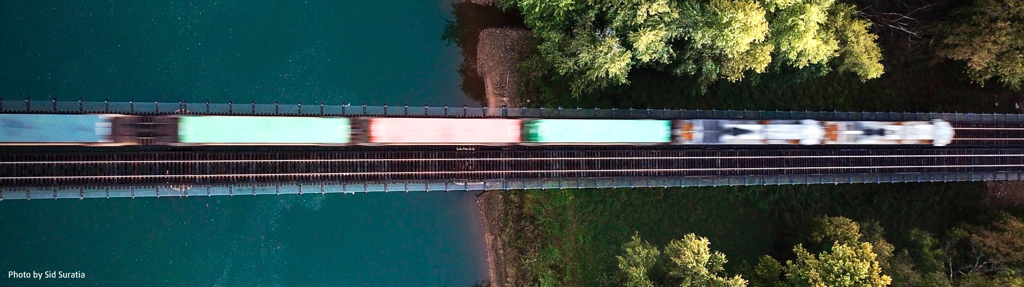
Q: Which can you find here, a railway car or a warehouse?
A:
railway car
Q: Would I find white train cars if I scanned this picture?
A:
Yes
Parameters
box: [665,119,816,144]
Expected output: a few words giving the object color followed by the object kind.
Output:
white rail car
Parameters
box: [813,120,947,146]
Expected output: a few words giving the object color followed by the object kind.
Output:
white rail car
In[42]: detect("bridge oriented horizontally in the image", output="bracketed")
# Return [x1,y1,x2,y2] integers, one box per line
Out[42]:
[0,96,1024,201]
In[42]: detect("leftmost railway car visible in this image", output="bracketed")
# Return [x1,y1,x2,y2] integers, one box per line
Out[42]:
[0,111,152,144]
